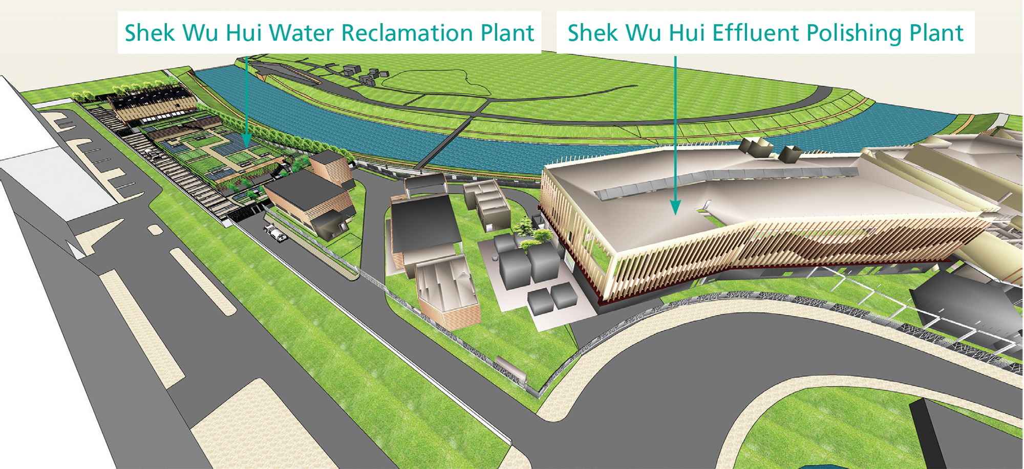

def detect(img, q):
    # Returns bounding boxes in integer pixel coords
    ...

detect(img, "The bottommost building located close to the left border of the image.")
[0,178,212,469]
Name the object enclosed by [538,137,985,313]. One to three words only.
building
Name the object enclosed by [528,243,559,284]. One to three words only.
storage tank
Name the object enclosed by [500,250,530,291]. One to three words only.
storage tank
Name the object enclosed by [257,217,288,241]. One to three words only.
truck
